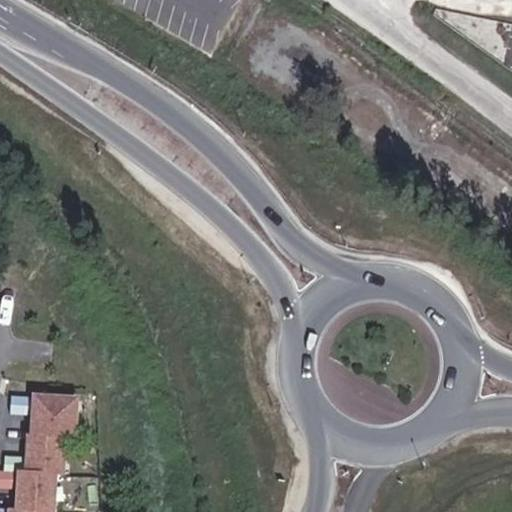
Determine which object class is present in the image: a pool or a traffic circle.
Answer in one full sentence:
The one in the frame is a traffic circle.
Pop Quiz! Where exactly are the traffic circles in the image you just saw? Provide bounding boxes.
[287,270,472,456]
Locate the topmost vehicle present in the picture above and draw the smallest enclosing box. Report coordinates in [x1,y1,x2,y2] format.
[263,206,284,225]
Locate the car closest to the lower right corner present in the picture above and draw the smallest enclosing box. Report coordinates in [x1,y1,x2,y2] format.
[444,366,456,390]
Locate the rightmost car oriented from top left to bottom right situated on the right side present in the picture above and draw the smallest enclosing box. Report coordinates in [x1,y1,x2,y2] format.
[426,308,446,326]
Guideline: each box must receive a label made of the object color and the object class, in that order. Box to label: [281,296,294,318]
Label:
gray vehicle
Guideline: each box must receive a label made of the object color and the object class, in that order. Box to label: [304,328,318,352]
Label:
white vehicle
